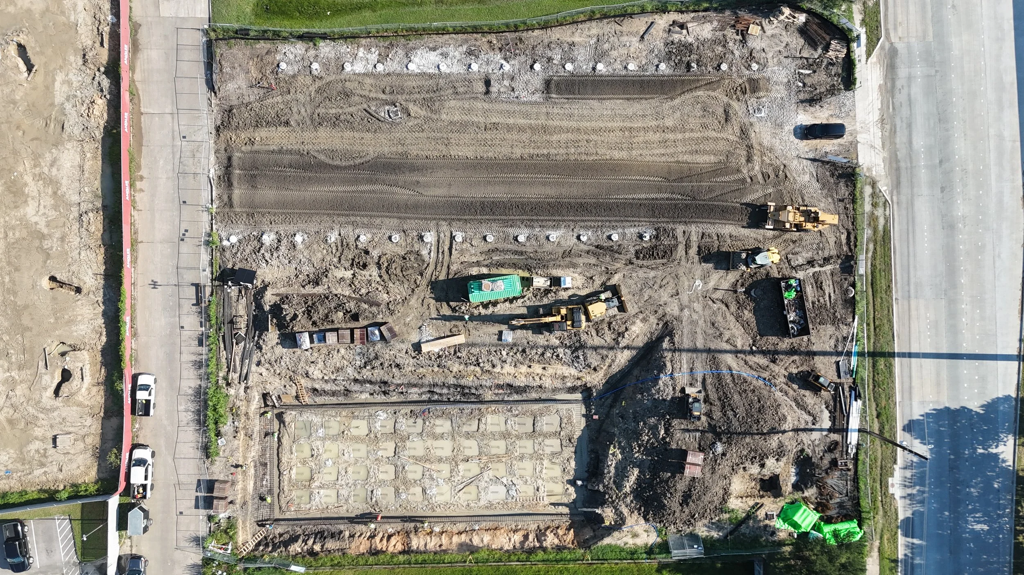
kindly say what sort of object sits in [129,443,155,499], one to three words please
truck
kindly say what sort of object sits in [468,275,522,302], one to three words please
shipping container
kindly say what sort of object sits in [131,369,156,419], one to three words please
truck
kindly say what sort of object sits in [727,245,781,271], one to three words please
work vehicle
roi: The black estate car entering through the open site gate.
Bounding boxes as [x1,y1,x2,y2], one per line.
[801,121,846,142]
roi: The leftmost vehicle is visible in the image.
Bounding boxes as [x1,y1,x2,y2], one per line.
[5,516,34,571]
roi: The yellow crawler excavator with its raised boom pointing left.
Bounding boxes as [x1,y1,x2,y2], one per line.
[511,305,585,331]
